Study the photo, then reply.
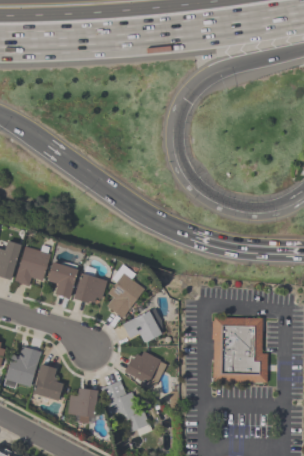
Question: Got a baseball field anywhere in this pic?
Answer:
No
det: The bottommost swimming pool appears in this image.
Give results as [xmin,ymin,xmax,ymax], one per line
[94,415,108,438]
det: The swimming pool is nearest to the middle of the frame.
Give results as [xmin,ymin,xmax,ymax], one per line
[90,259,108,277]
